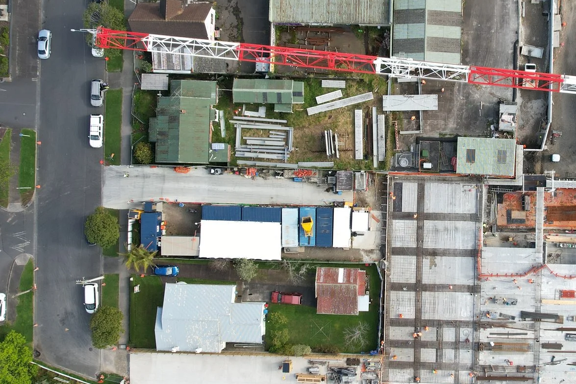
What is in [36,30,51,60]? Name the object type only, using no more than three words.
car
